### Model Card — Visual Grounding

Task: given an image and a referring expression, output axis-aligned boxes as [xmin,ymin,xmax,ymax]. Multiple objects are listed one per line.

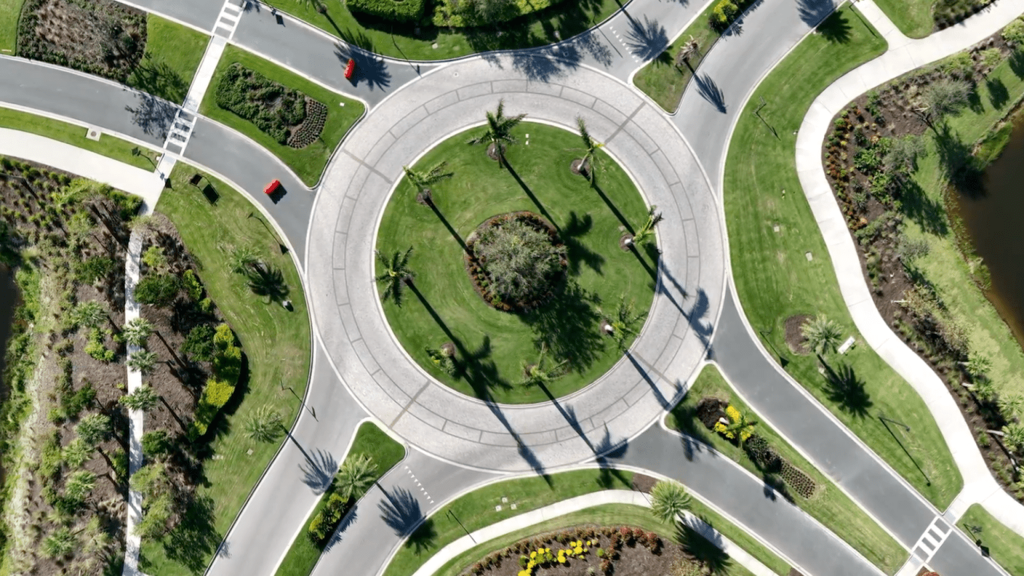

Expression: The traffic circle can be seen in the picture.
[307,58,726,474]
